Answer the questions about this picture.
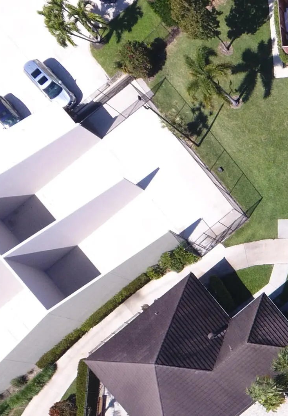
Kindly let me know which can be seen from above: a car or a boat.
car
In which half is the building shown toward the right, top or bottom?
bottom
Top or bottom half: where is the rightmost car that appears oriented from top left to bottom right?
top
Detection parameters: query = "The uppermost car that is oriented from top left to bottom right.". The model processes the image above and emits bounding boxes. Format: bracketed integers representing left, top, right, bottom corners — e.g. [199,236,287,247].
[20,52,70,105]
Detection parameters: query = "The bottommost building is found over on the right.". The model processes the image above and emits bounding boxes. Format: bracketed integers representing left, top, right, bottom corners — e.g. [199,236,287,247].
[84,272,288,416]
